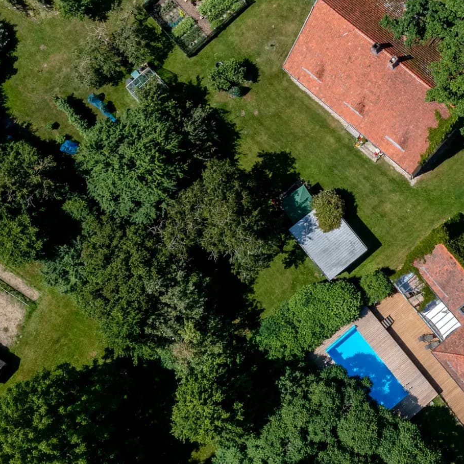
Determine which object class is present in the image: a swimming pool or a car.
swimming pool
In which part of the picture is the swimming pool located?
bottom right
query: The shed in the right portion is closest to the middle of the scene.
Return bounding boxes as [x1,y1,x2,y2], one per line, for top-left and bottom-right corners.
[289,202,367,276]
